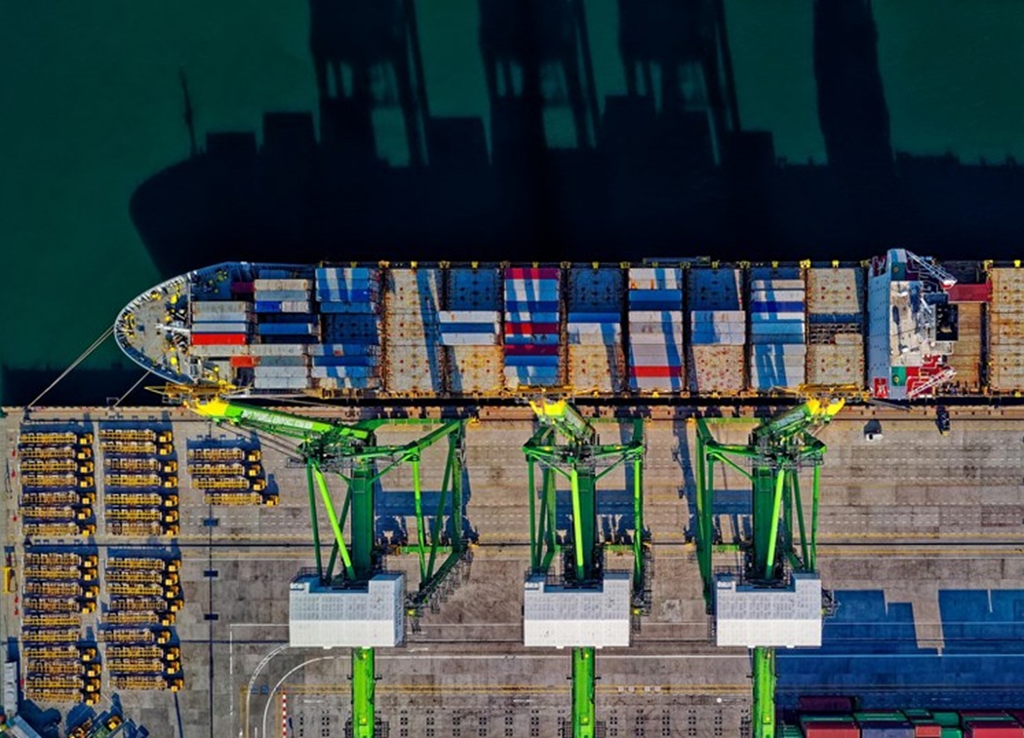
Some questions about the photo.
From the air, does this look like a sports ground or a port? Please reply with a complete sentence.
The picture captures a port.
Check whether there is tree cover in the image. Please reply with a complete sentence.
No, the picture contains no tree cover.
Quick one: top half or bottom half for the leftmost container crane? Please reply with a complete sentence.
The leftmost container crane is in the bottom half of the image.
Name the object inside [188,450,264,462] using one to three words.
vehicle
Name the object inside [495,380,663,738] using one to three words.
container crane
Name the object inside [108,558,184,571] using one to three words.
vehicle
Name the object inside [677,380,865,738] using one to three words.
container crane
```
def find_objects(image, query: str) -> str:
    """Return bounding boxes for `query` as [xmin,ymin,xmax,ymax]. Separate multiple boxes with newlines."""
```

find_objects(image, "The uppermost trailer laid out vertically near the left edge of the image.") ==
[5,663,24,721]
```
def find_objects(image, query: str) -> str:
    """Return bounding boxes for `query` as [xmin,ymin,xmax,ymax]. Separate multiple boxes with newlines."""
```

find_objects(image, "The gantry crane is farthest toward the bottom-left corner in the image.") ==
[148,380,489,738]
